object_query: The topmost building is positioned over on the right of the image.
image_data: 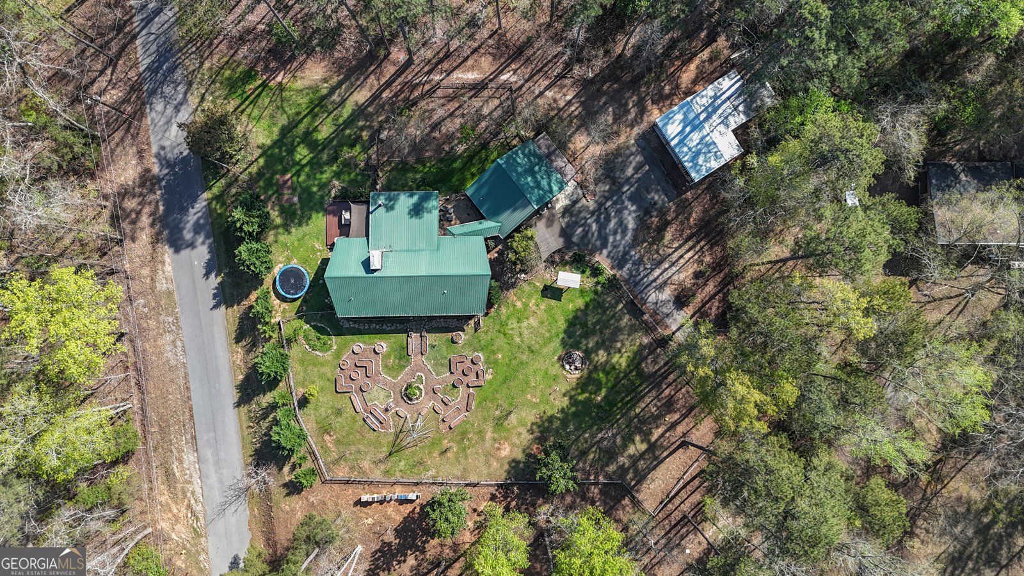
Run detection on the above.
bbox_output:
[653,70,780,183]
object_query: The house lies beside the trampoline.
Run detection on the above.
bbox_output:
[324,191,491,318]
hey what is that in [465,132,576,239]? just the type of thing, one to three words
building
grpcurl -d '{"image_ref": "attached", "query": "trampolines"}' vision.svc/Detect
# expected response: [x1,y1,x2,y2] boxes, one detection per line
[276,266,310,300]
